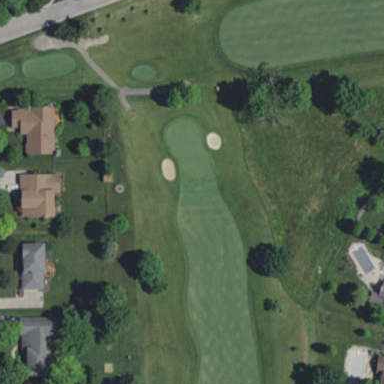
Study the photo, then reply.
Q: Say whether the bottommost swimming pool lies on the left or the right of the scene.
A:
right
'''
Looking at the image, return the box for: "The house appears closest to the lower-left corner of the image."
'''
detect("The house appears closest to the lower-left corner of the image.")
[20,318,52,380]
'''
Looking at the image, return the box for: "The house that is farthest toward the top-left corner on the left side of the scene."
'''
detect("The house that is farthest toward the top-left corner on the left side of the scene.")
[11,108,55,154]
